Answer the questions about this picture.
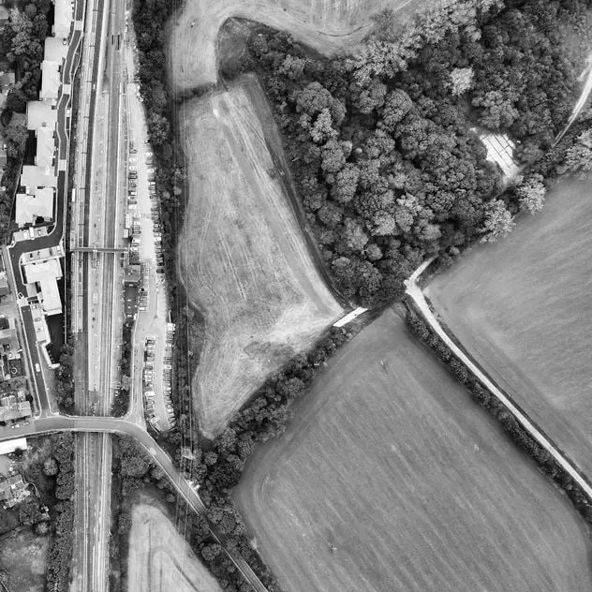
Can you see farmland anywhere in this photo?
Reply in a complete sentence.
Yes, farmland shows up in the scene.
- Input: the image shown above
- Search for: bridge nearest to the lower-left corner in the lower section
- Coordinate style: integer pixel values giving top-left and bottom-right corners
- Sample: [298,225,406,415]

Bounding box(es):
[34,415,145,437]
